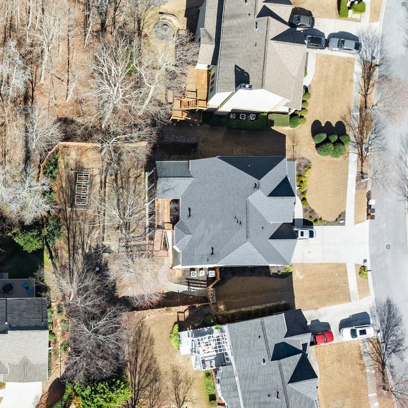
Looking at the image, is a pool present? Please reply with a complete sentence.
No, the picture doesn't show any pool.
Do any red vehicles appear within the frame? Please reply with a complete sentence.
Yes, there is a red vehicle in the image.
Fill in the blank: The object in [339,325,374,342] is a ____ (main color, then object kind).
white car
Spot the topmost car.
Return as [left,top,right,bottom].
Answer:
[288,11,315,29]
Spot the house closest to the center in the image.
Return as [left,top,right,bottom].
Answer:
[150,156,298,270]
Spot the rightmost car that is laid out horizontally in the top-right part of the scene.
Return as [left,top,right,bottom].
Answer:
[328,36,361,53]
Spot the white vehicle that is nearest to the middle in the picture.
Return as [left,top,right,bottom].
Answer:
[295,225,317,240]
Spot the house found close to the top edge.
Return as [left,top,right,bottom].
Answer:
[171,0,307,123]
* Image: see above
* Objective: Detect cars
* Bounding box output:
[305,32,329,50]
[339,325,374,342]
[295,225,317,240]
[288,11,315,29]
[308,330,334,347]
[328,36,361,53]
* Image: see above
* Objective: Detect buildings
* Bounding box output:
[150,156,298,270]
[179,309,319,408]
[0,273,48,382]
[171,0,307,123]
